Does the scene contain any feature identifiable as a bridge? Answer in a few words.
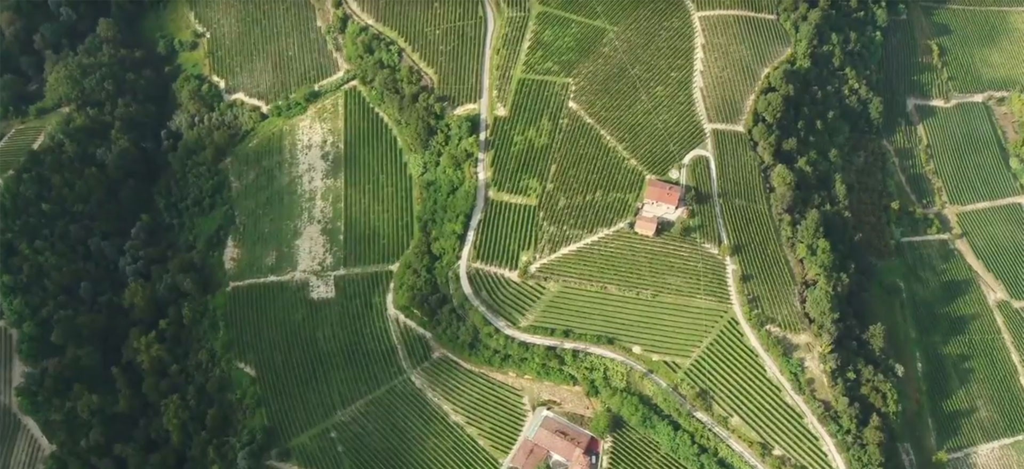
No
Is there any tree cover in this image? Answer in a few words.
Yes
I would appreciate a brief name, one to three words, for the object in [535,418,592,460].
building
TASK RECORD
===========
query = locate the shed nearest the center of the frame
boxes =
[635,215,658,237]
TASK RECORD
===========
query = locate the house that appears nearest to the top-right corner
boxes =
[642,180,681,212]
